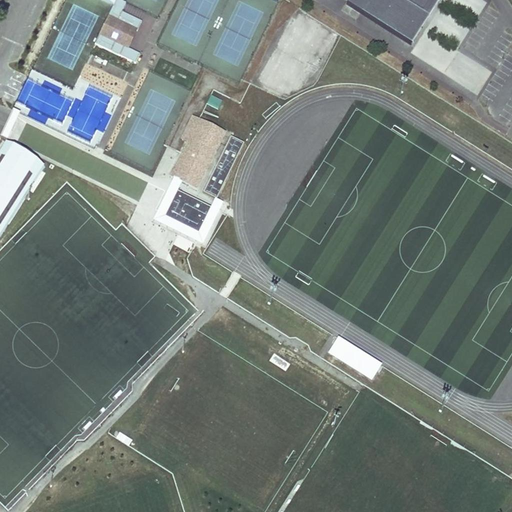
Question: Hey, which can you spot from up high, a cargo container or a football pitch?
football pitch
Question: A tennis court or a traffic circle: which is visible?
tennis court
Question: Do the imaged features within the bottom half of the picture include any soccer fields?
Yes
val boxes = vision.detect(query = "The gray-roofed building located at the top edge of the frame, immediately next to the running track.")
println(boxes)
[338,0,440,48]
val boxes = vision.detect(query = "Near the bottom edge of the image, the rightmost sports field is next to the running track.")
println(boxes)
[114,332,328,512]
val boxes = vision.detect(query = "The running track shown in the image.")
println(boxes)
[192,84,512,446]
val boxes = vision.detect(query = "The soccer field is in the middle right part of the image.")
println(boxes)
[258,100,512,398]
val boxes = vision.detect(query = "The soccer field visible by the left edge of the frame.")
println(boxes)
[0,182,197,507]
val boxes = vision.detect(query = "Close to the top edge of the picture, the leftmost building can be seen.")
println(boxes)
[96,0,142,64]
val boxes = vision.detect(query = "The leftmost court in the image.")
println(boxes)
[18,76,72,124]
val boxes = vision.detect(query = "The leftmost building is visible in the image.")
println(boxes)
[0,142,46,240]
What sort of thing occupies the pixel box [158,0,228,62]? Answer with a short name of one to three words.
tennis court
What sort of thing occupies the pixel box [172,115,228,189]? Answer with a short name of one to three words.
building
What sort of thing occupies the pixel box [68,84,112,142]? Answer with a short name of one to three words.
sports court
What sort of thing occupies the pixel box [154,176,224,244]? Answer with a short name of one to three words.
building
